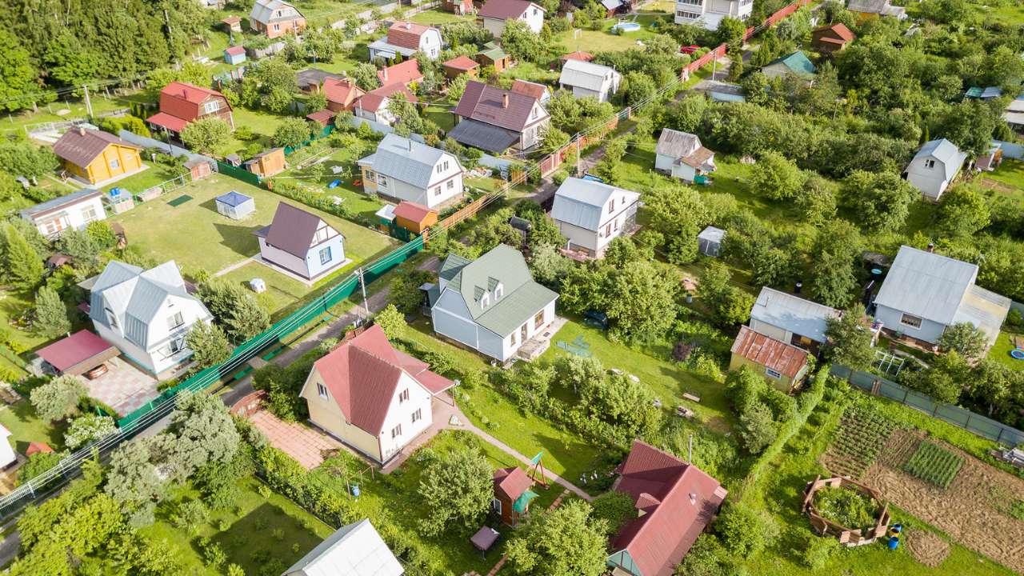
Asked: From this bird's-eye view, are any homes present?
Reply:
Yes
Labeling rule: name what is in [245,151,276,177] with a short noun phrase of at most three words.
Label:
shed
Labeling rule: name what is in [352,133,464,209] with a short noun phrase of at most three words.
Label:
house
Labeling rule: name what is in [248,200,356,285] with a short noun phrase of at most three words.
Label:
house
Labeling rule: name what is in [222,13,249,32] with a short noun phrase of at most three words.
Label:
shed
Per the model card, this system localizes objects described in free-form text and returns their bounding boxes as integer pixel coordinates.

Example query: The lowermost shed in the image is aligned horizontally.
[280,518,404,576]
